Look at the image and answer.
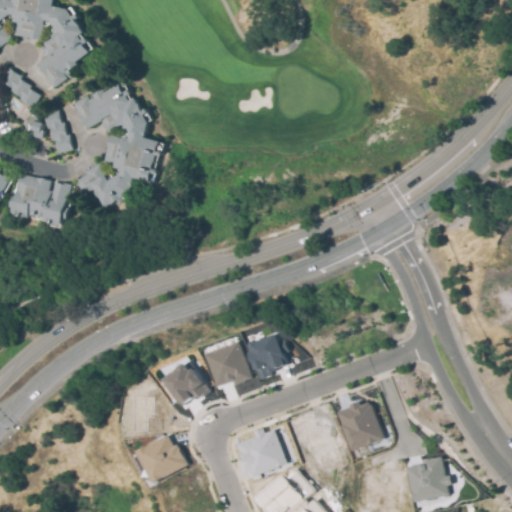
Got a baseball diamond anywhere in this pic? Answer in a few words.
No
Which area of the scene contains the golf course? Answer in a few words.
top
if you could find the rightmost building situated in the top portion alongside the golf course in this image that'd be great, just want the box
[73,80,164,212]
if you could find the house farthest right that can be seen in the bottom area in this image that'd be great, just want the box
[408,457,450,502]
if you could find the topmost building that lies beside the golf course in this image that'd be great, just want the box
[0,0,92,94]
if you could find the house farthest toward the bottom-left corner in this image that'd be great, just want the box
[138,435,188,482]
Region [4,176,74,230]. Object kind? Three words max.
building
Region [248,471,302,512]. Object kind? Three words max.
house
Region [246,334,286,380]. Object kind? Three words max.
house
